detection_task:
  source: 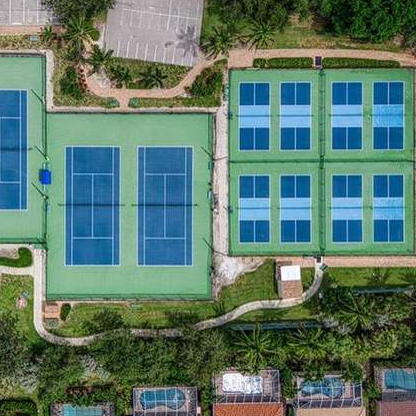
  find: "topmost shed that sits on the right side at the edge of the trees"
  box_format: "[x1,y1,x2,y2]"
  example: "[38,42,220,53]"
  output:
[276,265,302,298]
